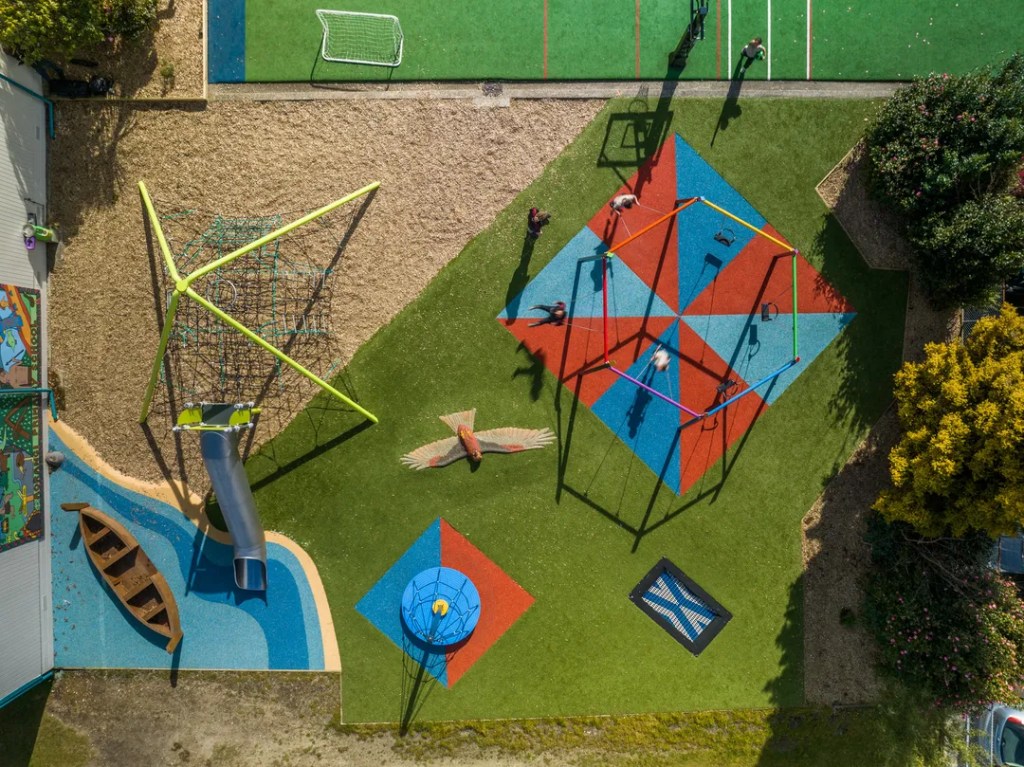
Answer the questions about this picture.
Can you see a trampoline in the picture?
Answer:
Yes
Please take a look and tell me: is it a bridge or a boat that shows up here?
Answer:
boat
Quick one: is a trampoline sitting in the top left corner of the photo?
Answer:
No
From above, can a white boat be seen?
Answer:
No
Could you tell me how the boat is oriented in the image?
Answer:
at an angle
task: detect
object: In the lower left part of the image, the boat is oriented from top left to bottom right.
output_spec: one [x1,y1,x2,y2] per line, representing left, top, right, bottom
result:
[59,500,188,653]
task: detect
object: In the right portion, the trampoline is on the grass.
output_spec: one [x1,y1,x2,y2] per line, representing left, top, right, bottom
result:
[629,558,732,654]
